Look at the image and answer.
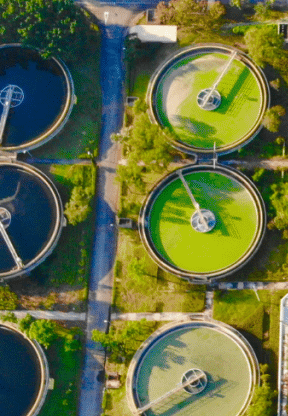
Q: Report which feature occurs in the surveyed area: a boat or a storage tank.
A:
storage tank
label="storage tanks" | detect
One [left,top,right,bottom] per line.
[0,160,71,284]
[126,311,259,416]
[0,42,82,163]
[137,164,265,290]
[0,318,56,416]
[147,44,269,168]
